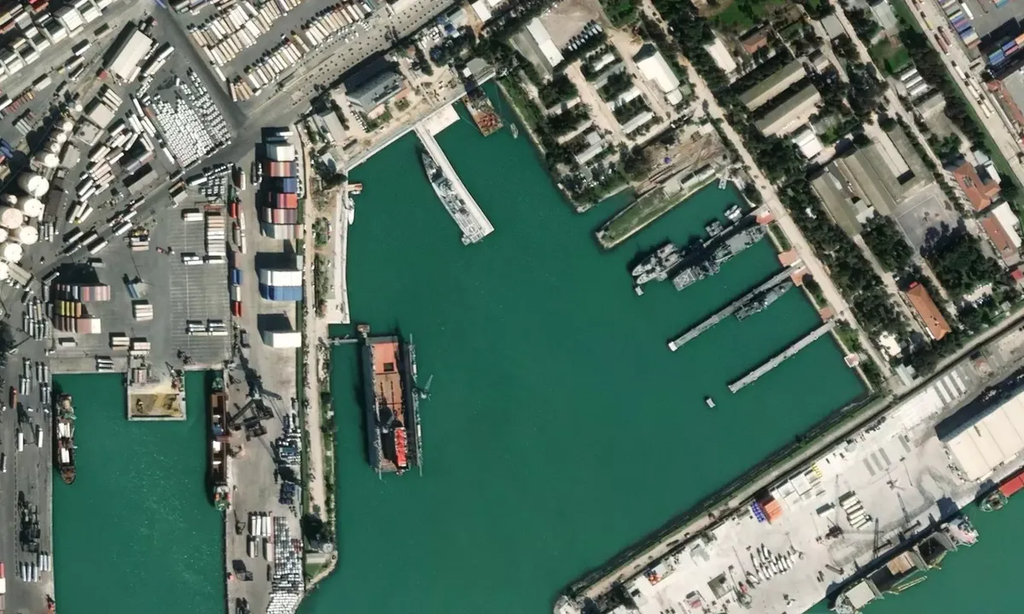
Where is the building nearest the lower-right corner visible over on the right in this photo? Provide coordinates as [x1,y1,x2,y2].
[940,389,1024,481]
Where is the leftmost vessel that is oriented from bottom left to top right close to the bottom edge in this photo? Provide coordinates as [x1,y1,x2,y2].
[825,514,985,613]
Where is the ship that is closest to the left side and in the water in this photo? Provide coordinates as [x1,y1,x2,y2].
[52,391,83,484]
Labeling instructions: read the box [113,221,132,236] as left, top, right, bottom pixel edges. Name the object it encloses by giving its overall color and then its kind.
white vehicle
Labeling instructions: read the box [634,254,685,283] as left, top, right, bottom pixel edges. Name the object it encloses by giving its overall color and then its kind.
gray ship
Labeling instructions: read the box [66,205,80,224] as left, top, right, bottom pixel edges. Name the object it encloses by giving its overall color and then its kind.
white vehicle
